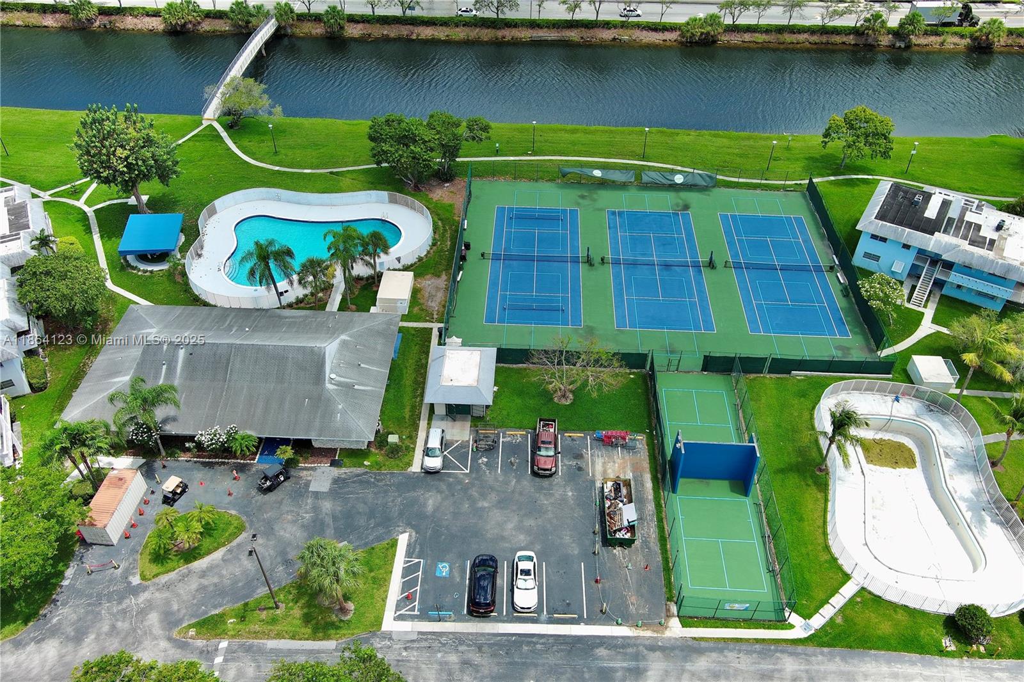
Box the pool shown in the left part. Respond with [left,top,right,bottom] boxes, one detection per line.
[190,199,433,308]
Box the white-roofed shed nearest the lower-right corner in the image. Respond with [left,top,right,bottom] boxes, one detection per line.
[906,355,964,398]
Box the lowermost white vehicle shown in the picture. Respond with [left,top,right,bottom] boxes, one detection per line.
[511,550,539,607]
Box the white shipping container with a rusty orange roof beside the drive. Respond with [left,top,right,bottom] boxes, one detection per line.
[76,467,143,546]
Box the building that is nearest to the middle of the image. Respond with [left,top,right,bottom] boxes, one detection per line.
[425,346,497,421]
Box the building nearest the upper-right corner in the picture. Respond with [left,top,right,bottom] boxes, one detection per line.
[851,179,1024,311]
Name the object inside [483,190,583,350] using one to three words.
tennis court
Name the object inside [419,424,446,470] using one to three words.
car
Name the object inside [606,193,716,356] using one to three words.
tennis court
